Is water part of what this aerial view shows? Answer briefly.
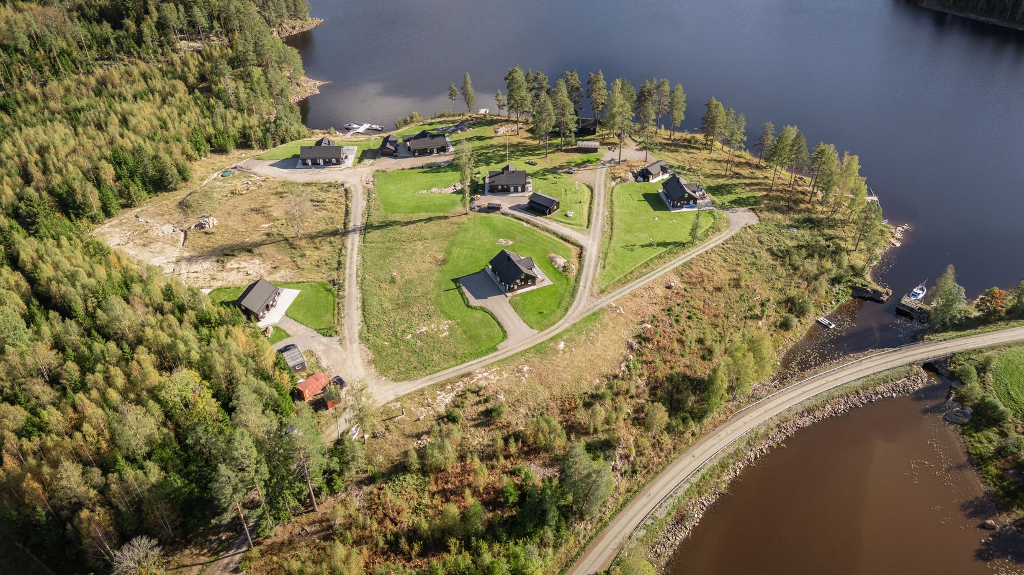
Yes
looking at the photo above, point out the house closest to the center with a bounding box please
[486,249,553,297]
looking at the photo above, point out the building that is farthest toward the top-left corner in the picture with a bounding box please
[296,136,357,168]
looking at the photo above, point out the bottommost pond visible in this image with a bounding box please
[663,363,1024,575]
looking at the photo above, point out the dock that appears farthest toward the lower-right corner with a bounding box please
[898,290,934,322]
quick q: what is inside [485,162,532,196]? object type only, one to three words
house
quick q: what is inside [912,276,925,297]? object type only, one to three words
boat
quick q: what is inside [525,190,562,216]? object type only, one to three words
building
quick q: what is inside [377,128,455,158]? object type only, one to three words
house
